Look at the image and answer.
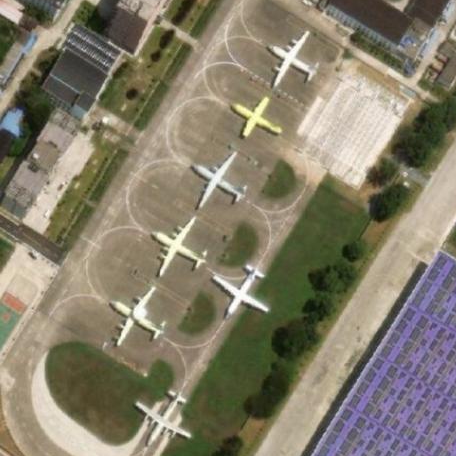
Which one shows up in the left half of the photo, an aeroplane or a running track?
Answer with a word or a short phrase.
aeroplane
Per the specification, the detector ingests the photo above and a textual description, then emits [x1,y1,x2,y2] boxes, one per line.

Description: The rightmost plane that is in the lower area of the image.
[212,266,269,319]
